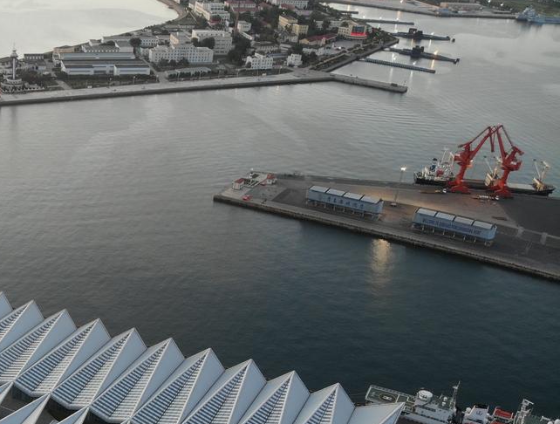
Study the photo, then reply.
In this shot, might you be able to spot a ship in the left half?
No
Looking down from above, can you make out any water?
Yes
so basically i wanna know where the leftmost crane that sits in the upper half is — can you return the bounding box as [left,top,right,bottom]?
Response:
[446,124,501,196]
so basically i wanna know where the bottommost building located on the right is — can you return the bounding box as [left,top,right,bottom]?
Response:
[415,210,504,247]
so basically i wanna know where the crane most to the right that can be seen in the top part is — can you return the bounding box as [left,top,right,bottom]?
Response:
[488,124,538,201]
